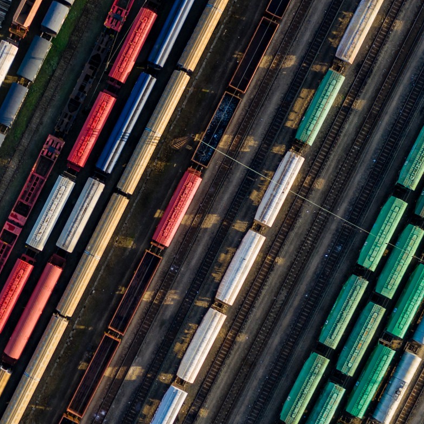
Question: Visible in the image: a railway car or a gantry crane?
railway car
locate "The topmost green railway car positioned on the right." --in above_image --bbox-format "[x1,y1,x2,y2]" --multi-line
[289,67,345,151]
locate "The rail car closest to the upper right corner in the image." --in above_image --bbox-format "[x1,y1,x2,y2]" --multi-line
[328,0,382,72]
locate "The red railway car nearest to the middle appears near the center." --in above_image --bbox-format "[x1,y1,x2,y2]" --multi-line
[149,166,202,250]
